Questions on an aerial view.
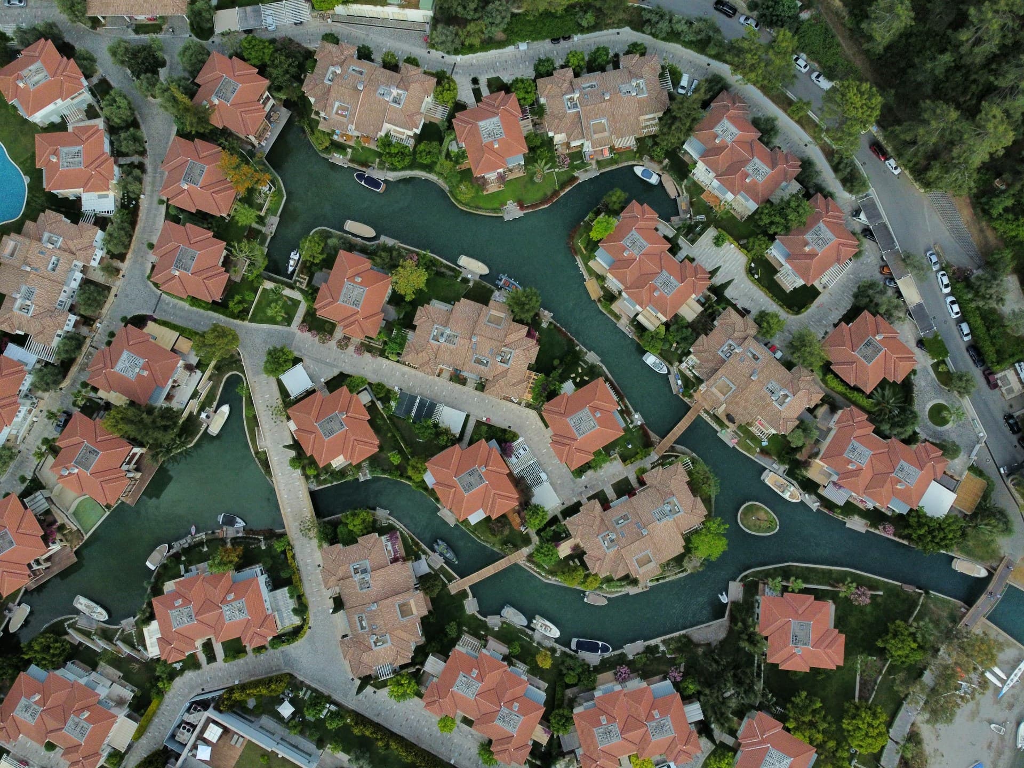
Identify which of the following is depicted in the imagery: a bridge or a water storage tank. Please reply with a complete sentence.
Visible in the photo is a bridge.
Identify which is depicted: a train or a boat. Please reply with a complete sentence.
The one in the frame is a boat.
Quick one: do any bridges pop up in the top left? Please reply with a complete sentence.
No, no bridge is visible in the top left.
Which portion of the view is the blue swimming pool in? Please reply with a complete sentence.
The blue swimming pool sits in the top left section of the image.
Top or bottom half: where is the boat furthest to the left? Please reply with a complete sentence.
The boat furthest to the left sits in the bottom half of the picture.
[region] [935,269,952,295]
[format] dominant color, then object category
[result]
white car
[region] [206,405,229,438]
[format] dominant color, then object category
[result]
white boat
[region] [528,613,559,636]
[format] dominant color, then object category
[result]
white boat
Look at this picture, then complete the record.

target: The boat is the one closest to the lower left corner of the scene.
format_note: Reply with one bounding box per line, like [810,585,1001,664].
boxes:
[10,600,32,632]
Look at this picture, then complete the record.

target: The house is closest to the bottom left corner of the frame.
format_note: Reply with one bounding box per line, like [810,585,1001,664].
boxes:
[0,657,135,768]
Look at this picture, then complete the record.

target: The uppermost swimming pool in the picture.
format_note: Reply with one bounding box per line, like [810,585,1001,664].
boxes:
[0,143,27,223]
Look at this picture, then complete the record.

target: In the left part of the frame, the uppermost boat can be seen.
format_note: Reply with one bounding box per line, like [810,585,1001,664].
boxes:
[355,175,389,192]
